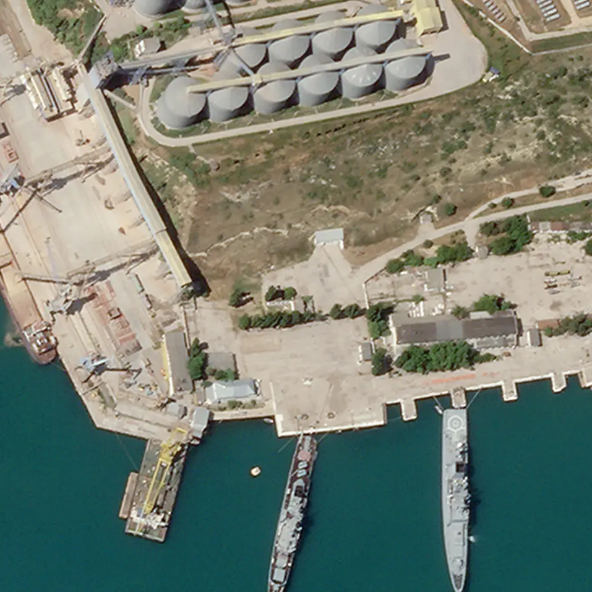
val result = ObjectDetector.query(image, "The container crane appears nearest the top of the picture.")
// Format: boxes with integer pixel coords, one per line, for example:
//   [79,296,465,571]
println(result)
[0,58,78,106]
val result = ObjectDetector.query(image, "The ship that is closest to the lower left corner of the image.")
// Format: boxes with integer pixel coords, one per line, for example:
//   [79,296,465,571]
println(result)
[124,428,186,544]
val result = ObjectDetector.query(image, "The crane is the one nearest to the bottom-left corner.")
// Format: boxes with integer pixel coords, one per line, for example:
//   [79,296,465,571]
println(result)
[74,353,139,381]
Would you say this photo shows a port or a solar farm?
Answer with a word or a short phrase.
port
